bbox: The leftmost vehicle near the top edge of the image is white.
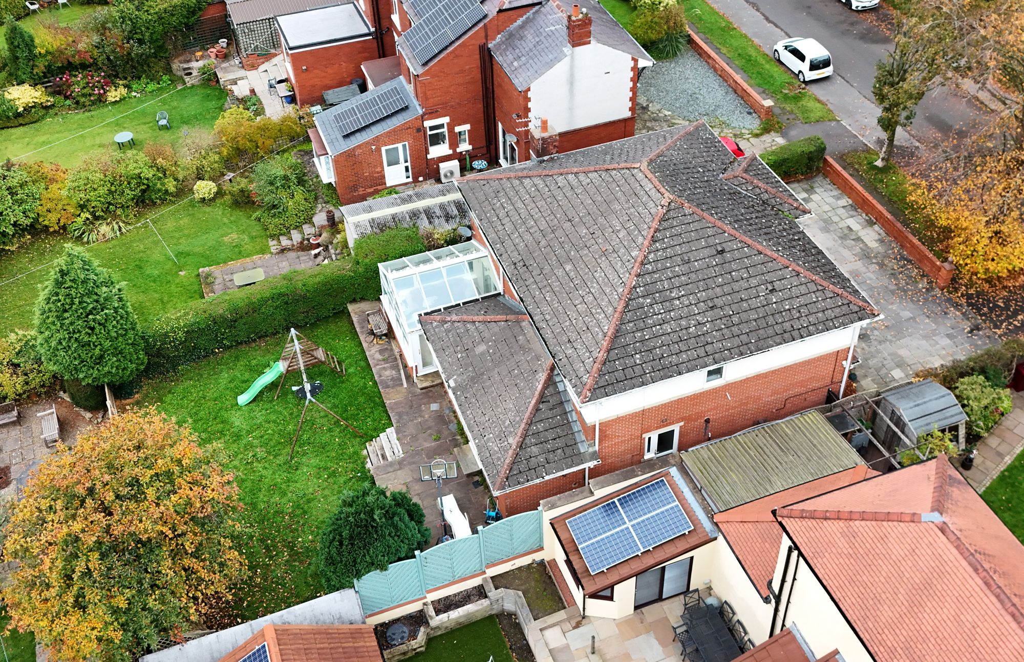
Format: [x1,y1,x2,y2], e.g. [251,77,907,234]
[772,33,836,83]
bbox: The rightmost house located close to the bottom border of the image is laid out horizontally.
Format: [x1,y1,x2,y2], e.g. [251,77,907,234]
[541,451,1024,662]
